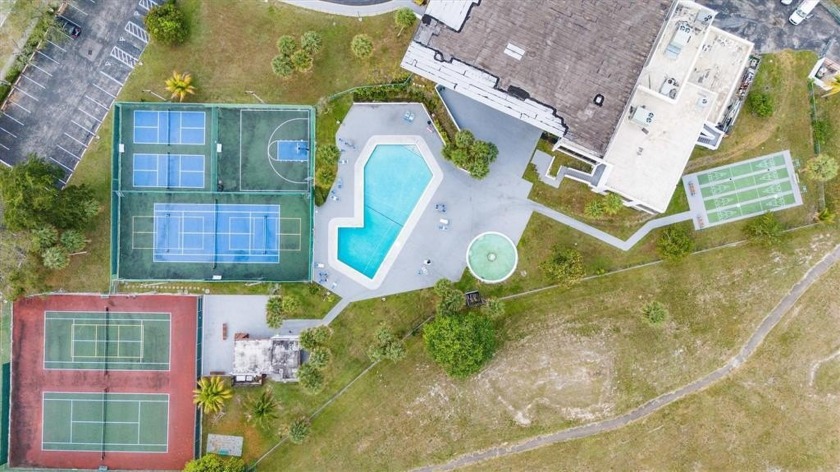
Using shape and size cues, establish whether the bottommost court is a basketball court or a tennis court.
tennis court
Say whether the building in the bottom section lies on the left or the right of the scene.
left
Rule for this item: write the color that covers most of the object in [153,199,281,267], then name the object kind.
blue tennis court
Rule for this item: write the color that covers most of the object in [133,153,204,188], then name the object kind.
blue sports court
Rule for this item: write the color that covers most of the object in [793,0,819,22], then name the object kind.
white vehicle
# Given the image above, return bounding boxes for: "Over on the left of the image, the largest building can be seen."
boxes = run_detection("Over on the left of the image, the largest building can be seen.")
[232,336,303,387]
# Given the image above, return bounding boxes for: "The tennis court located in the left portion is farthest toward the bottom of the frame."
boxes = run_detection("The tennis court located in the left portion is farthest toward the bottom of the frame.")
[41,389,170,458]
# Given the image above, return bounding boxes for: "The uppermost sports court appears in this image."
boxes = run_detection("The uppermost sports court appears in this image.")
[133,108,205,144]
